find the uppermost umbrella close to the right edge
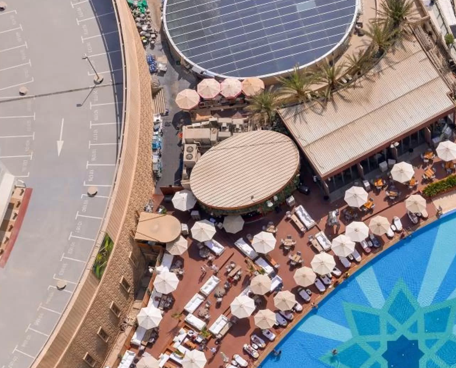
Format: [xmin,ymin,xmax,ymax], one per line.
[435,143,456,163]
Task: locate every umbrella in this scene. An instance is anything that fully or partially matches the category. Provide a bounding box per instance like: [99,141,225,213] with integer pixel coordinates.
[191,220,217,242]
[223,215,244,236]
[252,233,277,255]
[255,308,277,329]
[166,238,187,257]
[273,292,295,311]
[250,276,271,296]
[177,90,200,112]
[294,268,315,287]
[174,191,197,212]
[155,271,179,293]
[391,163,415,185]
[220,80,242,100]
[345,220,369,243]
[311,253,336,276]
[369,217,390,237]
[230,295,255,319]
[139,307,163,331]
[197,79,220,101]
[182,349,208,368]
[405,196,425,217]
[138,358,159,368]
[330,235,356,257]
[435,143,456,163]
[343,186,368,209]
